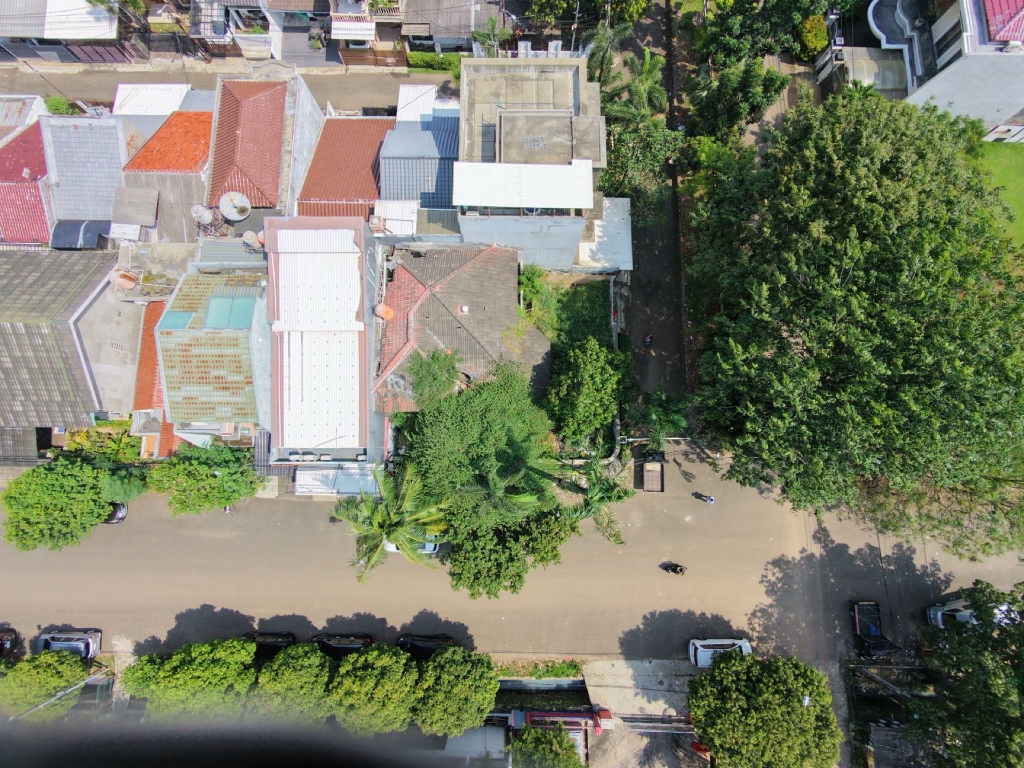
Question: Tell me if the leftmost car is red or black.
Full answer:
From above, the leftmost car appears black.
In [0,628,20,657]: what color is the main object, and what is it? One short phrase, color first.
black car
